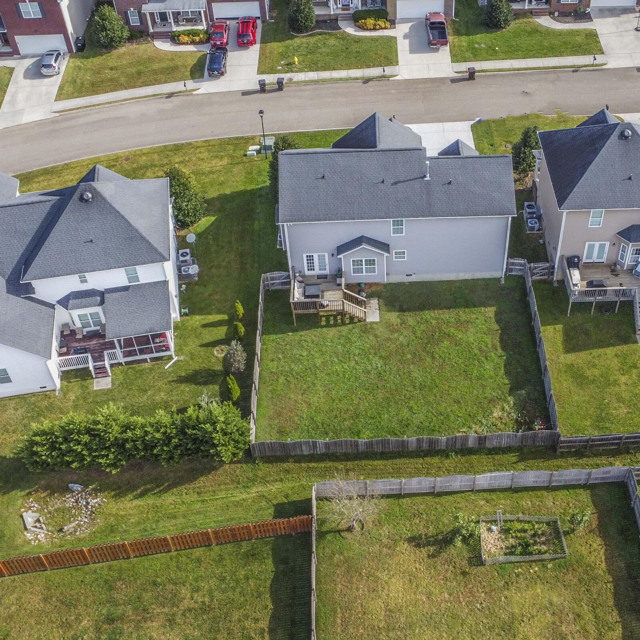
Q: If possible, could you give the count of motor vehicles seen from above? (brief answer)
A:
5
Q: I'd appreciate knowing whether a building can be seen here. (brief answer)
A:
Yes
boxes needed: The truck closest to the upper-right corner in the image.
[427,12,449,46]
